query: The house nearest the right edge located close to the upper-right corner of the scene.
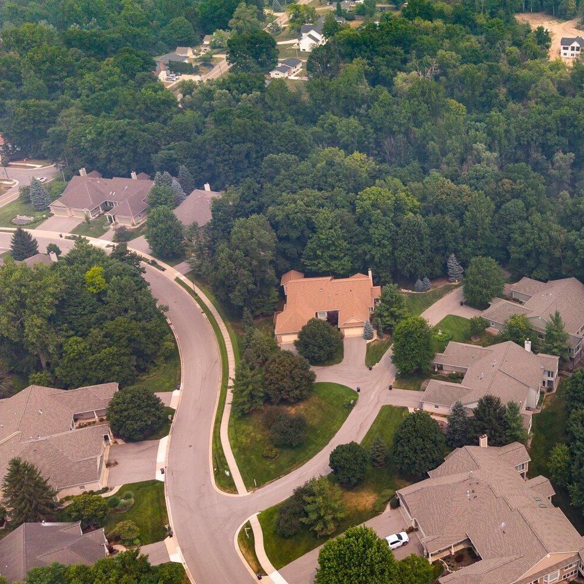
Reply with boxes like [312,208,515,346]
[560,37,584,63]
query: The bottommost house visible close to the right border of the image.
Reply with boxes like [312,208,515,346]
[394,433,584,584]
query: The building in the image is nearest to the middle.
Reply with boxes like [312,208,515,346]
[273,267,380,343]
